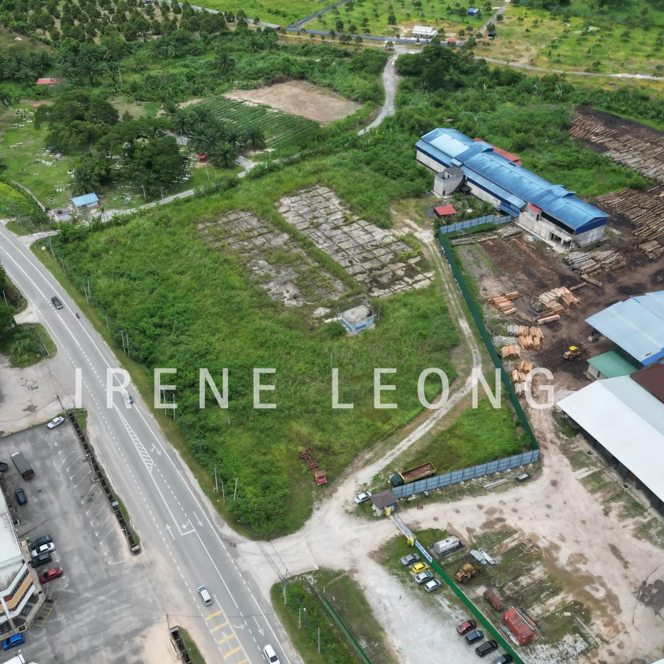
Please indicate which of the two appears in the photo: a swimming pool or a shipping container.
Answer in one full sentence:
The image shows a shipping container.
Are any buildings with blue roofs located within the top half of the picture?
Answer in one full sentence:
Yes, a building with a blue roof shows up within the top half of the picture.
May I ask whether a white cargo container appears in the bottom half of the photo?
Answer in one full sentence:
No, no white cargo container appears in the bottom half of the photo.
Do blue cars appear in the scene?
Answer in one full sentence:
Yes, the frame does contain a blue car.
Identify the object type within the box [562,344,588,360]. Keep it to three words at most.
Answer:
work vehicle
